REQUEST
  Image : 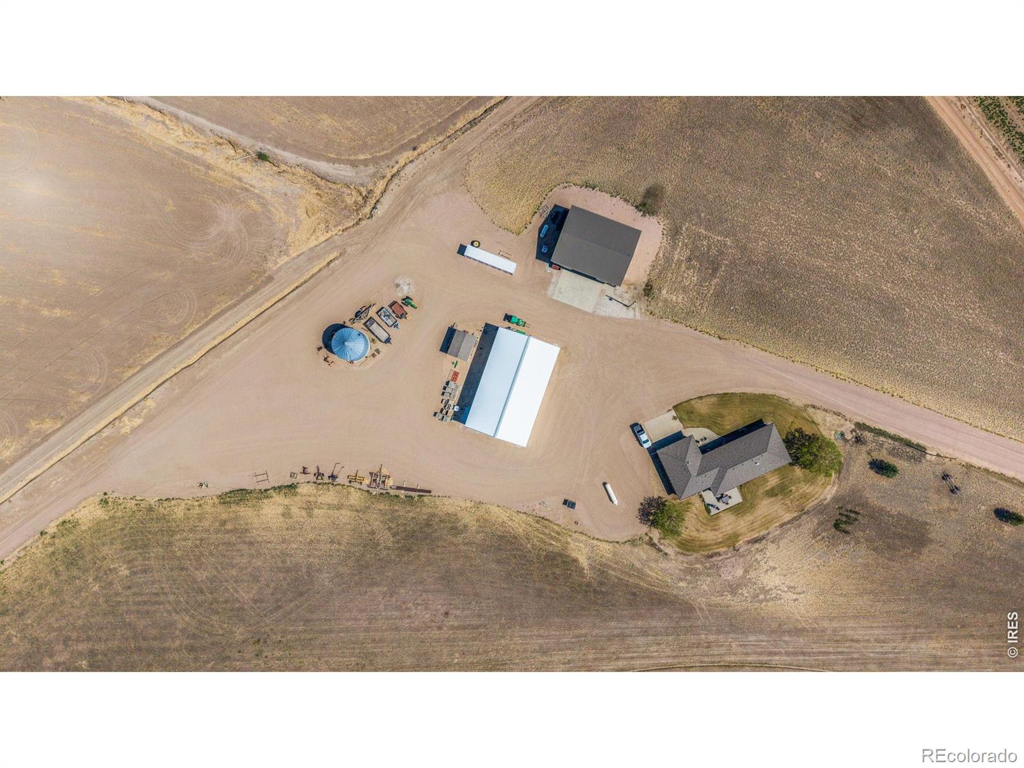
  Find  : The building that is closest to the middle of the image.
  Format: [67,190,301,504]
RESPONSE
[465,327,560,446]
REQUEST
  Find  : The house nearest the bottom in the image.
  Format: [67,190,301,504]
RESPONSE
[657,423,791,501]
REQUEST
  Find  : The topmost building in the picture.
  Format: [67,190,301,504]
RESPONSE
[551,205,641,289]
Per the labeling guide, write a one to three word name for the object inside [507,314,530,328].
work vehicle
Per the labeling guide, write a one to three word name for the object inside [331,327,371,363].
silo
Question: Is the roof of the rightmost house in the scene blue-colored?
No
